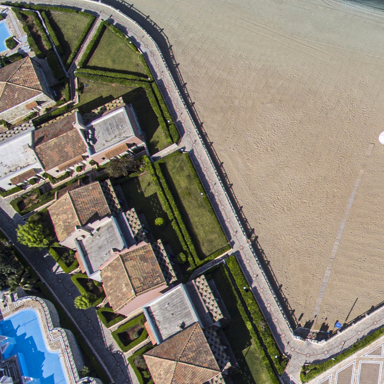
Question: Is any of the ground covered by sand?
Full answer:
Yes, some sand is visible.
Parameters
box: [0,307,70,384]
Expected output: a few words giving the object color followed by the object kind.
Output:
blue swimming pool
